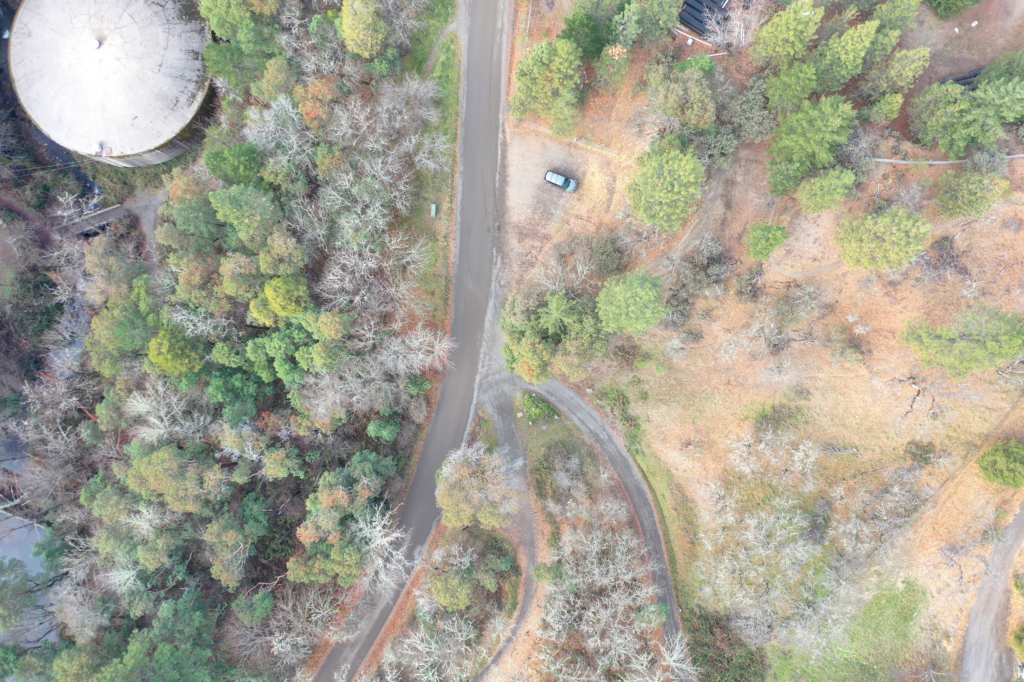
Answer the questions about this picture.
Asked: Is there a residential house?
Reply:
No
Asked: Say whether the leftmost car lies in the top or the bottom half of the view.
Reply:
top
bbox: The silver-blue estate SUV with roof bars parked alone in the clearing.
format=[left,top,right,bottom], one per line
[543,168,578,191]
